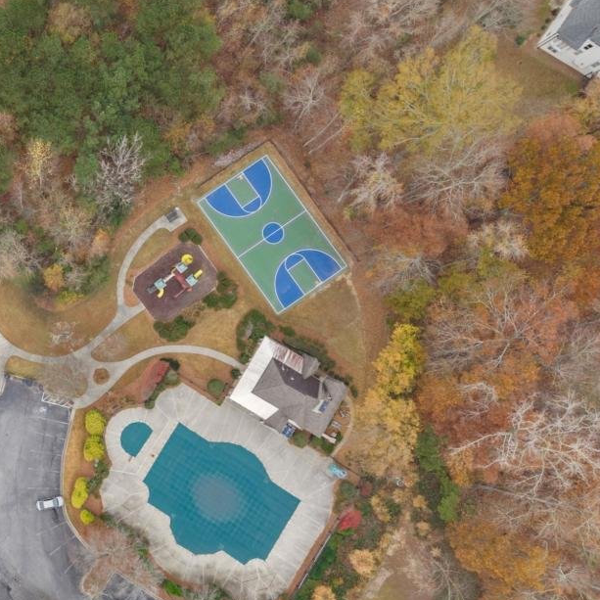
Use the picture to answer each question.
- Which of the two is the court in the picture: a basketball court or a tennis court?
basketball court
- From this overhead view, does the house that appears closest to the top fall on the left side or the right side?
right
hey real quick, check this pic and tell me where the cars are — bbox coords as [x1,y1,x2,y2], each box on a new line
[36,496,64,511]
